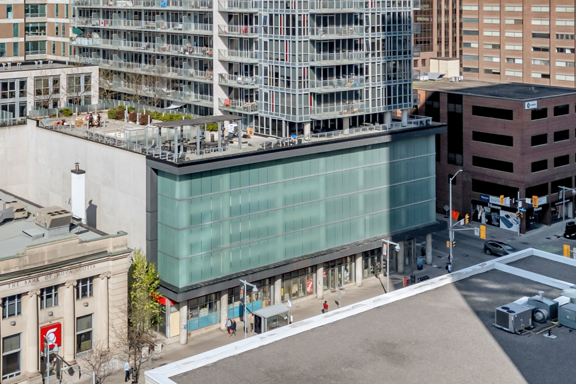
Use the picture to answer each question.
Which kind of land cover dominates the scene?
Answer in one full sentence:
What you mostly see from above here is buildings.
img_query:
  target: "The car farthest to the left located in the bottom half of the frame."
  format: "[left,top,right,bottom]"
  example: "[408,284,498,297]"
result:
[473,237,511,256]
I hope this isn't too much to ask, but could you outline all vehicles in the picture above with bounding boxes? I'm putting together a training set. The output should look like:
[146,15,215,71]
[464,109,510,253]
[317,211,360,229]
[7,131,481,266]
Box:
[473,237,511,256]
[564,224,576,239]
